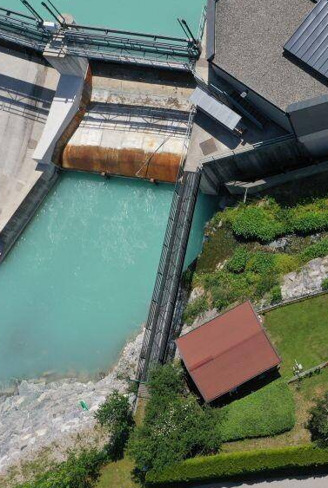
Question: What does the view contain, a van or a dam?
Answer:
dam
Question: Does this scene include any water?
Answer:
Yes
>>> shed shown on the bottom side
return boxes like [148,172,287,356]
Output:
[175,301,282,403]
